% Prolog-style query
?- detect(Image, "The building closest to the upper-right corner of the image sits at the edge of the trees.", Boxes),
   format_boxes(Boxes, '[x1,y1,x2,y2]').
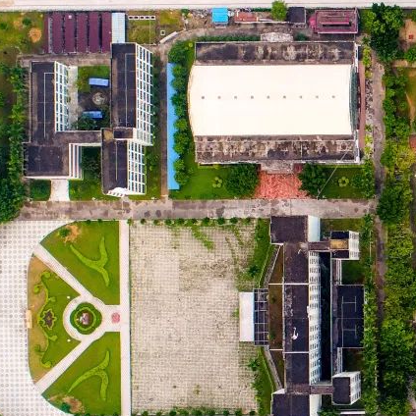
[310,9,359,35]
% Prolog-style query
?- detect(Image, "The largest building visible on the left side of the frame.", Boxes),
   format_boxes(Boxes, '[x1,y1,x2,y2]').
[23,43,154,197]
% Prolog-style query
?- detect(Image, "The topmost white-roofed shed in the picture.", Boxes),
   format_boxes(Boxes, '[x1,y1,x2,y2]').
[112,12,127,43]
